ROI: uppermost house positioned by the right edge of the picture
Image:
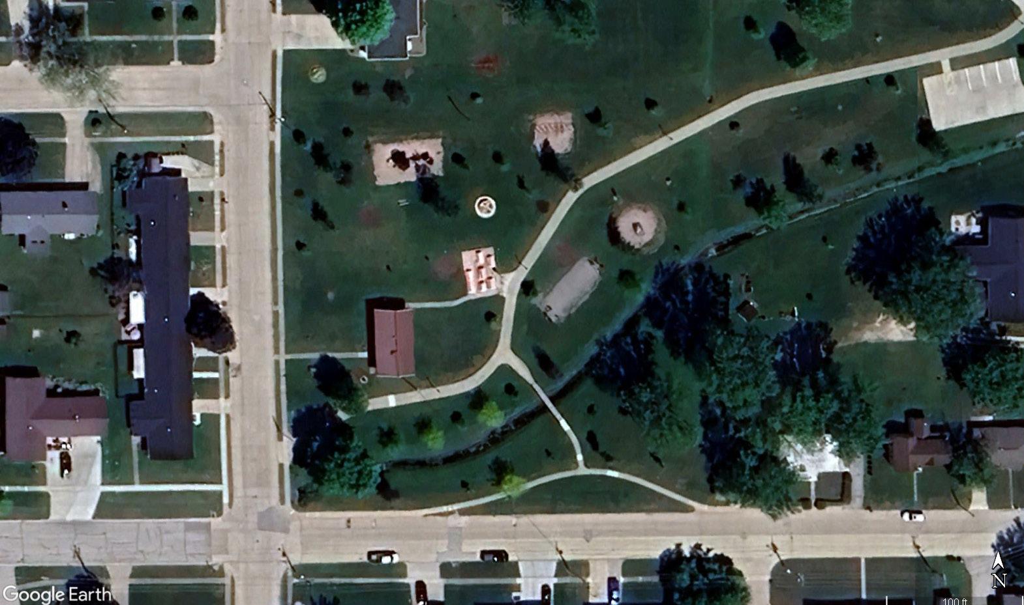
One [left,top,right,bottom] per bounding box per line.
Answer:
[948,214,1024,325]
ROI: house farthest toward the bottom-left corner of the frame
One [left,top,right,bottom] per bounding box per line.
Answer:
[3,375,112,465]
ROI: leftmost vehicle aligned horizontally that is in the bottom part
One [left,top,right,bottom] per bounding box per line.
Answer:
[370,554,397,566]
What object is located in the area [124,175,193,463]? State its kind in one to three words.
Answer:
building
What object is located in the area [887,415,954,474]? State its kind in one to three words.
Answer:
house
